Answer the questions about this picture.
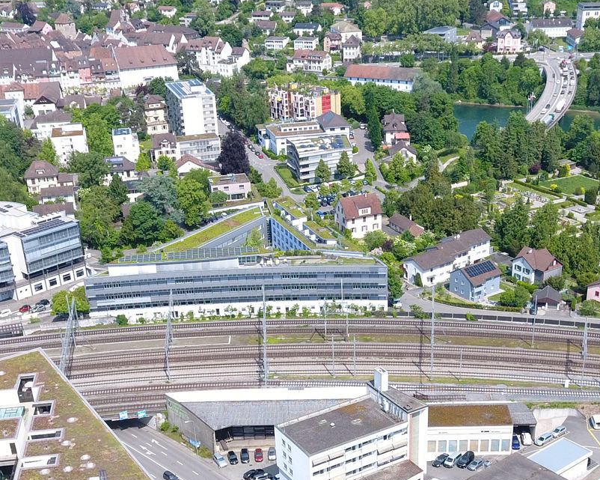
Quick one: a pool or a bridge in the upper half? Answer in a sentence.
There is a bridge in the upper half.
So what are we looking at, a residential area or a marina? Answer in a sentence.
This looks like a residential area.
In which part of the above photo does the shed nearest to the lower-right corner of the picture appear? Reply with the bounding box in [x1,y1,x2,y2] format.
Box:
[528,437,593,480]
